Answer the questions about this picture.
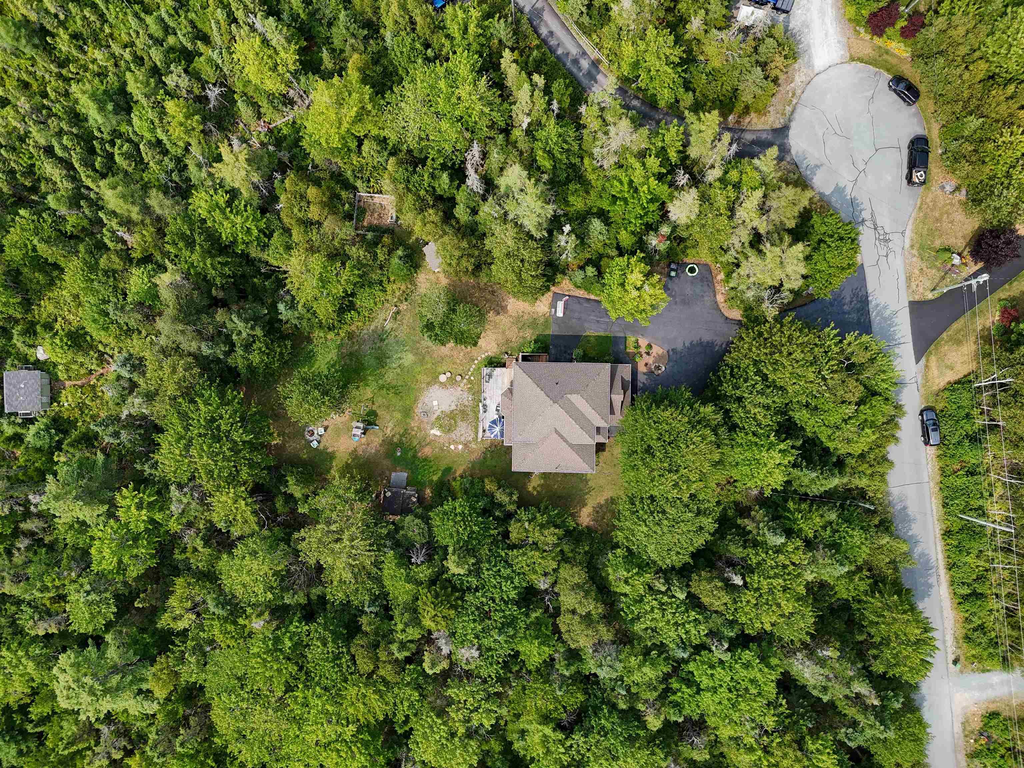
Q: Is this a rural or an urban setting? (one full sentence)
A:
The land in this view is best described as rural.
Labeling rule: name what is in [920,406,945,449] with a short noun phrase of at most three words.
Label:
car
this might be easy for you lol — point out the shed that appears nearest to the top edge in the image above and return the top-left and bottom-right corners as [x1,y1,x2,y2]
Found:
[424,242,449,274]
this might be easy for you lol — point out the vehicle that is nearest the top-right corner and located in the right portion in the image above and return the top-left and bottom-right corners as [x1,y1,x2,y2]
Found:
[888,70,928,106]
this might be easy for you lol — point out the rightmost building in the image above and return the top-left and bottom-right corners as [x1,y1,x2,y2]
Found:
[500,362,631,473]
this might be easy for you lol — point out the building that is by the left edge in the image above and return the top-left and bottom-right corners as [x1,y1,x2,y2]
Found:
[3,365,67,419]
